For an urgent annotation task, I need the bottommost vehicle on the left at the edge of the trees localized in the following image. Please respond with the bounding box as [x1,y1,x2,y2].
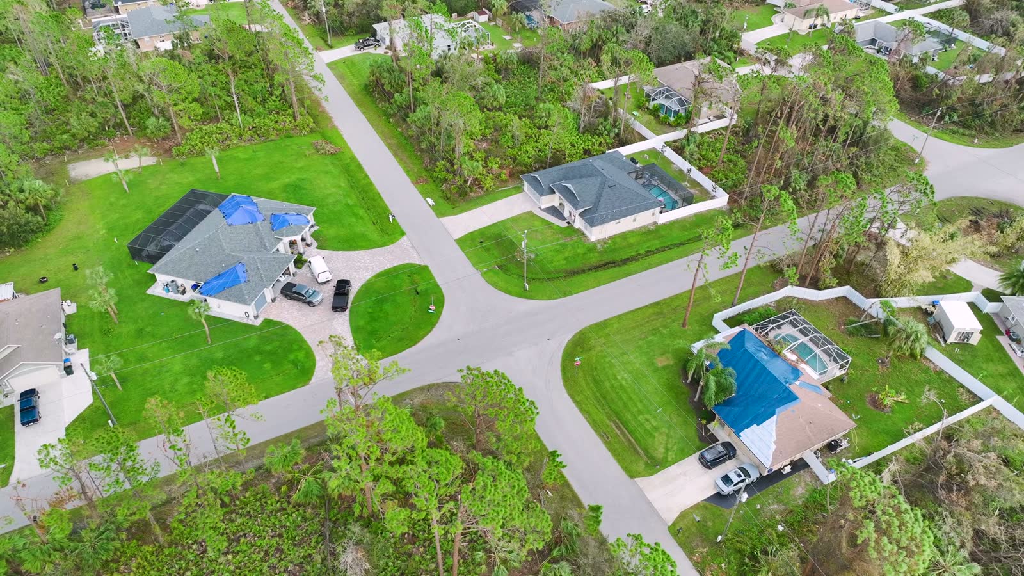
[16,388,42,432]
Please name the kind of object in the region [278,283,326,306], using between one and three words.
truck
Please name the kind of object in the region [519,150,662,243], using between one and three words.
house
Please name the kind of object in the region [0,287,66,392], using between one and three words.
house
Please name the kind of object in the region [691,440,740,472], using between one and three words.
car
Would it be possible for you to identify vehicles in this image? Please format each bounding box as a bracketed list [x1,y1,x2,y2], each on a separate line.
[305,257,336,285]
[278,283,326,306]
[16,388,42,432]
[354,39,377,51]
[691,440,740,472]
[331,280,352,313]
[709,465,763,495]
